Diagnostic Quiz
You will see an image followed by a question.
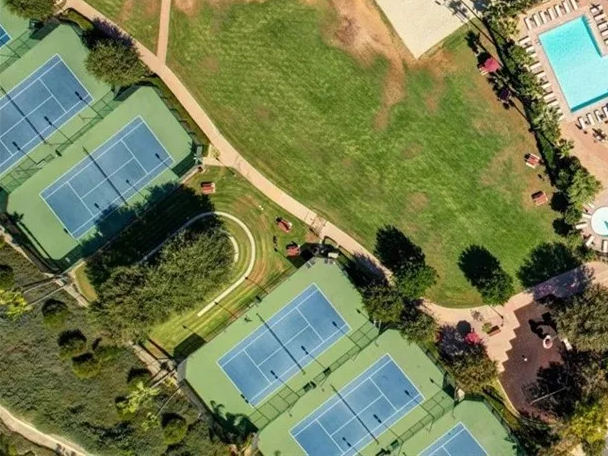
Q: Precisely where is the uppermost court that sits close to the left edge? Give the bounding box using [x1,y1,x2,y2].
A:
[0,0,57,72]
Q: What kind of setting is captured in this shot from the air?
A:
sports ground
